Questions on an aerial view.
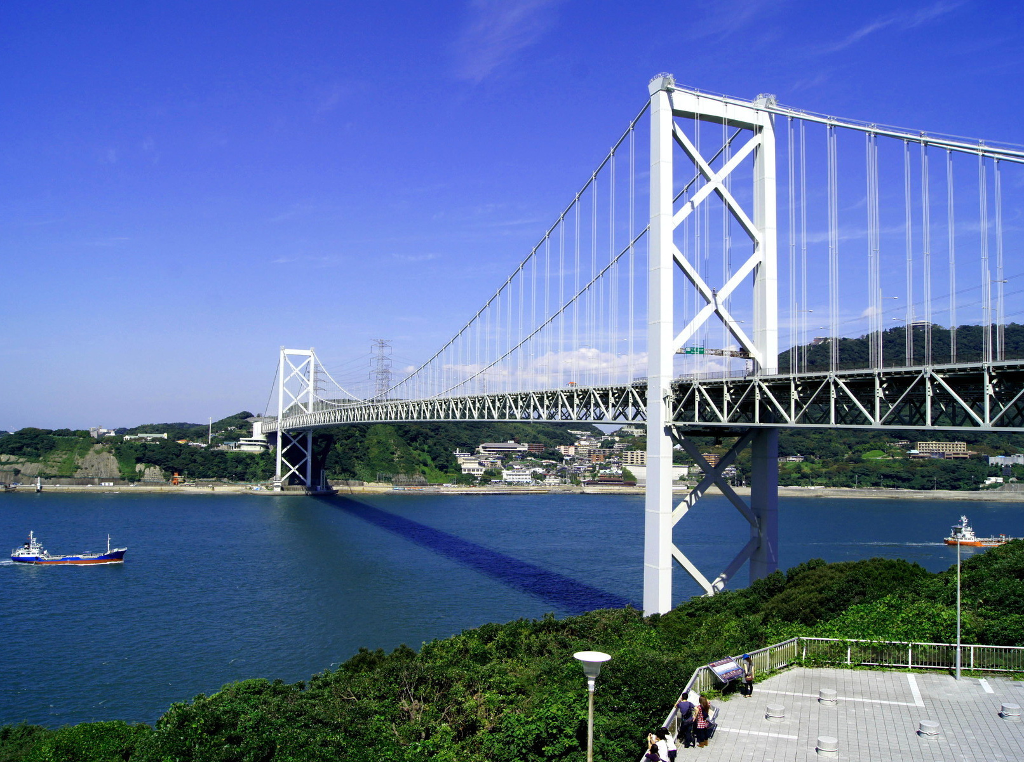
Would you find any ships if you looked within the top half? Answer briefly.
No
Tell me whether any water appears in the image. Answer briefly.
Yes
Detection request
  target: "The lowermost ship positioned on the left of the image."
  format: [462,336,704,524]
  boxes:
[11,529,125,562]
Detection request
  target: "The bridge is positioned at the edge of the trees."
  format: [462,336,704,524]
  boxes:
[261,69,1024,613]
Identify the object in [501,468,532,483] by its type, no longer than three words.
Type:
building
